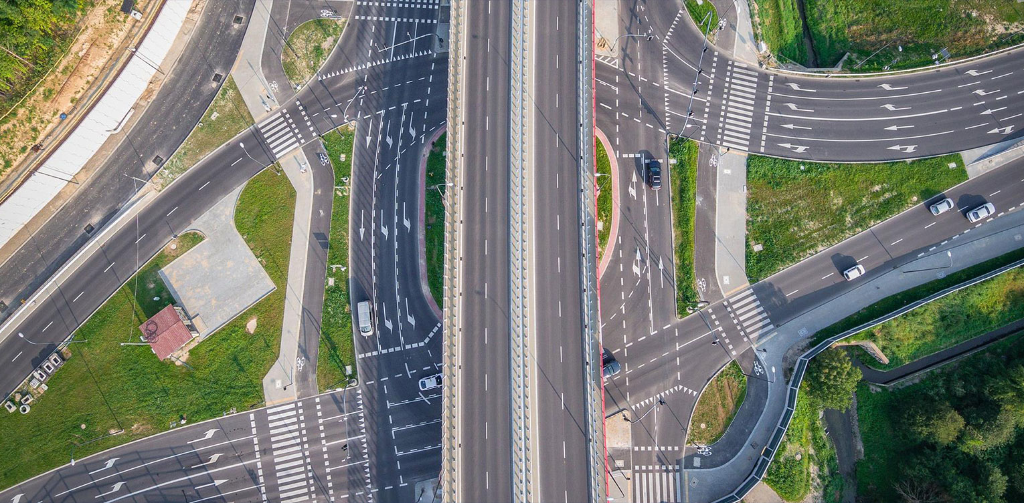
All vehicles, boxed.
[648,161,663,190]
[962,203,994,223]
[926,197,954,217]
[840,264,865,282]
[418,373,443,390]
[356,301,375,336]
[603,360,621,378]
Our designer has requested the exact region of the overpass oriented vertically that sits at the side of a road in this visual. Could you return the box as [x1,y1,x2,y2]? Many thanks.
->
[441,0,609,503]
